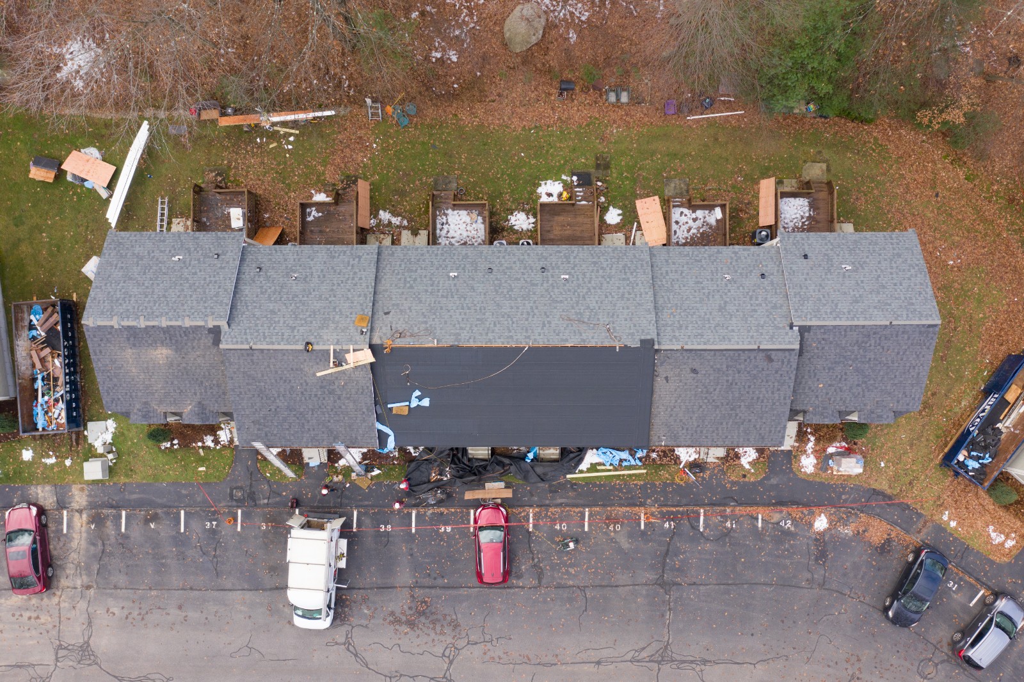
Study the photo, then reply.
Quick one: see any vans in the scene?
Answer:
Yes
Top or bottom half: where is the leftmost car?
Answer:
bottom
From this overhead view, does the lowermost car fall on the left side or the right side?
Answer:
right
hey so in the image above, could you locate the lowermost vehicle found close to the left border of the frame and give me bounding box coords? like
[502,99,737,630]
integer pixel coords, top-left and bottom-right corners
[2,503,53,595]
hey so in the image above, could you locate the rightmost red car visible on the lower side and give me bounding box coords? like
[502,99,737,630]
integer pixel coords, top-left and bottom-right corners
[471,500,513,584]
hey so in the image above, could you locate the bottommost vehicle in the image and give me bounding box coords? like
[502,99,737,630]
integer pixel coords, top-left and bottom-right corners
[946,588,1023,674]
